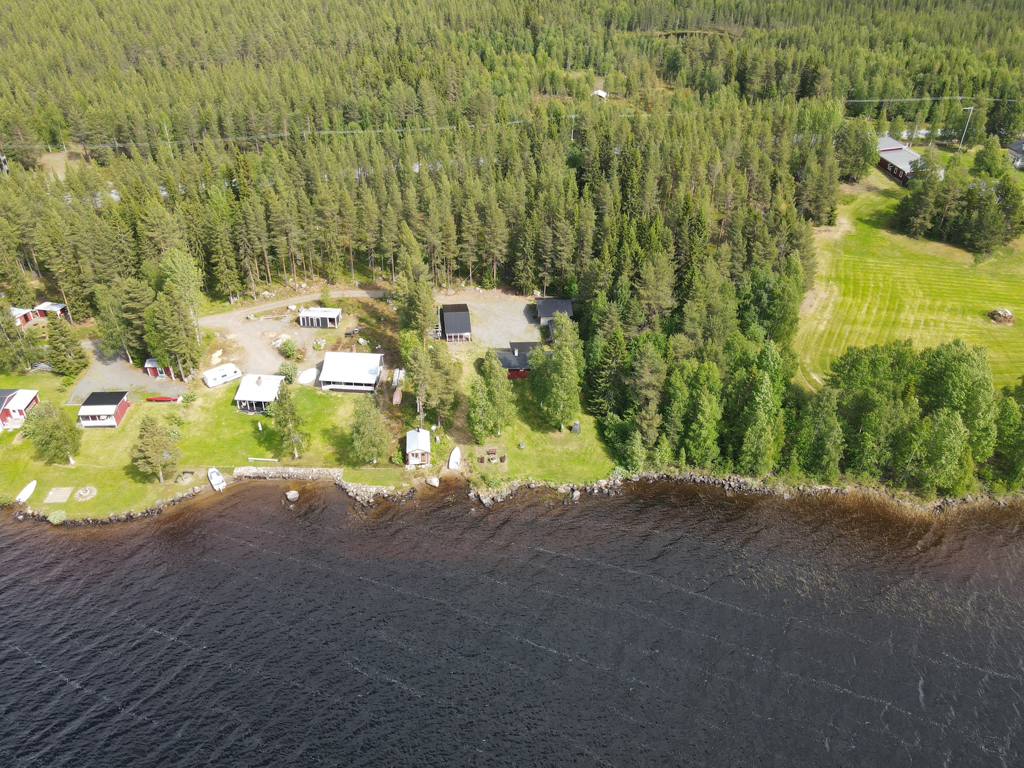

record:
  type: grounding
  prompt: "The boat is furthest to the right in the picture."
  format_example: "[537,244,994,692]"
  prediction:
[449,442,463,468]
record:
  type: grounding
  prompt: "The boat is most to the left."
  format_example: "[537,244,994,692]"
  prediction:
[12,476,35,510]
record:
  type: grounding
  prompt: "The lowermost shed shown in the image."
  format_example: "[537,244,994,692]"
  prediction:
[405,424,429,465]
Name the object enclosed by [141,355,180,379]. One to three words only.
shed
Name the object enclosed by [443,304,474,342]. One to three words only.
building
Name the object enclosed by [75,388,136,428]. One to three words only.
building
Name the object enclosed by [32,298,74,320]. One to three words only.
shed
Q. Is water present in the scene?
Yes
